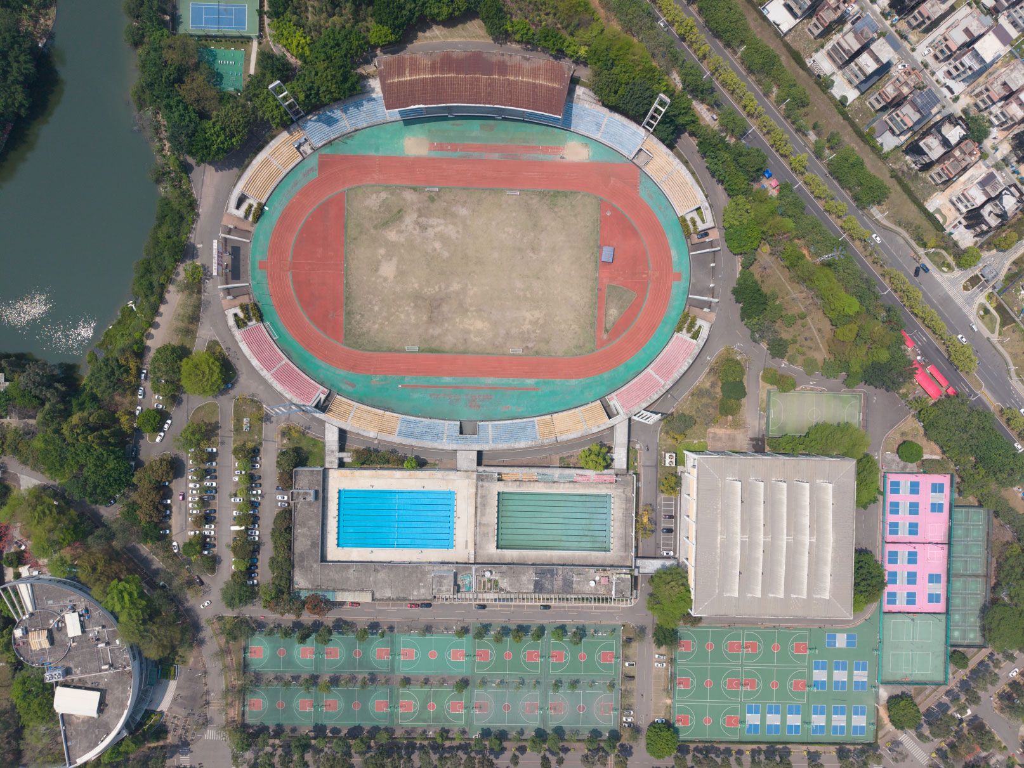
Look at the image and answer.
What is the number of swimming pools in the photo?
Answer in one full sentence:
I count 2 swimming pools.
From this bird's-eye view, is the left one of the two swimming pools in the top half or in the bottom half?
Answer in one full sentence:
You can find the left one of the two swimming pools in the bottom half.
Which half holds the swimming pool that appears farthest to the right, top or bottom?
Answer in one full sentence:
You can find the swimming pool that appears farthest to the right in the bottom half.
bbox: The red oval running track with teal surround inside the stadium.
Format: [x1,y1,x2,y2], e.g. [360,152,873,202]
[252,118,689,421]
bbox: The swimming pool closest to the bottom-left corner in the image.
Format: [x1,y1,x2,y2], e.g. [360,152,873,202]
[335,489,459,550]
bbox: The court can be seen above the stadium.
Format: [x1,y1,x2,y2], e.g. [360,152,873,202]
[176,0,260,35]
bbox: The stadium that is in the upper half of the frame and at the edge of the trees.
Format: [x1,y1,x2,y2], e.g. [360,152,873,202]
[218,50,723,451]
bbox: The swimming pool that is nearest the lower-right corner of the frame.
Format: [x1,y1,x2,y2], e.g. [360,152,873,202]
[495,491,615,552]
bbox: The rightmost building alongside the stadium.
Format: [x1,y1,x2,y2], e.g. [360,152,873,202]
[674,449,857,620]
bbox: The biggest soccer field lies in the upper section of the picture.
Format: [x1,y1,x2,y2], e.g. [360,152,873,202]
[342,185,600,355]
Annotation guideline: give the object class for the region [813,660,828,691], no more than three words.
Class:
sports court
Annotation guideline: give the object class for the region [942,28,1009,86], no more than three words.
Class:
house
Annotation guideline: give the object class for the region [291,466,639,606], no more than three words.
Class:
building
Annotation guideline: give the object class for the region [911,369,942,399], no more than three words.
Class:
tent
